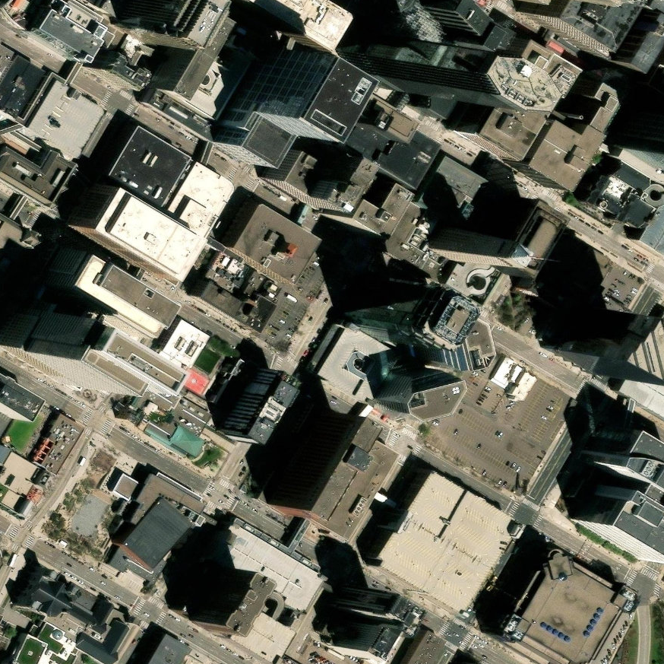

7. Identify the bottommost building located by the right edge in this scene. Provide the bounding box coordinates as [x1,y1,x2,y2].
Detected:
[486,555,634,664]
